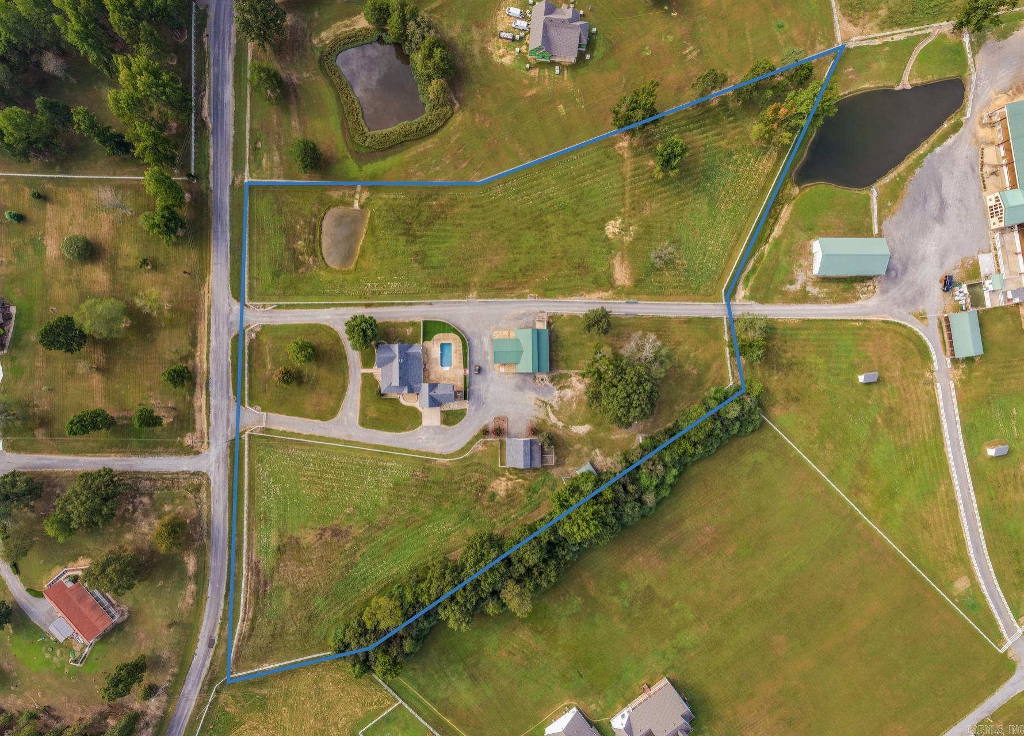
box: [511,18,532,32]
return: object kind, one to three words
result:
vehicle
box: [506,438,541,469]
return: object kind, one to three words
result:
building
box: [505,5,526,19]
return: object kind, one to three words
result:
vehicle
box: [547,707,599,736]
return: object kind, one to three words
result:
house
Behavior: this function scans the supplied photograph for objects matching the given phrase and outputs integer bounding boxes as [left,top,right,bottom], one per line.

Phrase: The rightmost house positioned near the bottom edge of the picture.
[611,677,694,736]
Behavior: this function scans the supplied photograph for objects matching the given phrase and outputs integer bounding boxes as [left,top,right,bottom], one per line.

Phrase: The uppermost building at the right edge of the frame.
[986,188,1024,230]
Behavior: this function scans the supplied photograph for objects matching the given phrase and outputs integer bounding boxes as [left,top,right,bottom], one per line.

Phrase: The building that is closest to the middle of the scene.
[494,329,549,373]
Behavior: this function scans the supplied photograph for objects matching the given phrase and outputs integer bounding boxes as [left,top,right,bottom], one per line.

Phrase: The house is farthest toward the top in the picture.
[529,0,589,62]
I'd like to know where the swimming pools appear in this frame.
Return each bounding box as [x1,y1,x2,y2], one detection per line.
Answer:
[439,342,453,370]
